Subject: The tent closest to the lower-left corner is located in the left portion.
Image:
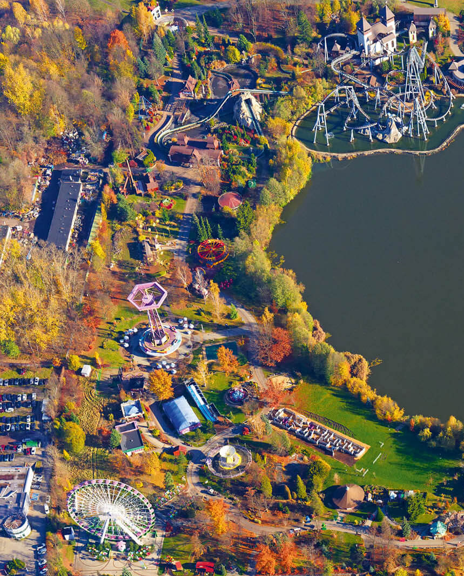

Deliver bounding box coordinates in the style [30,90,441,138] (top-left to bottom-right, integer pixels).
[166,395,200,439]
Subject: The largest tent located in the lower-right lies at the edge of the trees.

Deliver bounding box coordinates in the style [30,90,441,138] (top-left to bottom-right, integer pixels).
[331,485,365,514]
